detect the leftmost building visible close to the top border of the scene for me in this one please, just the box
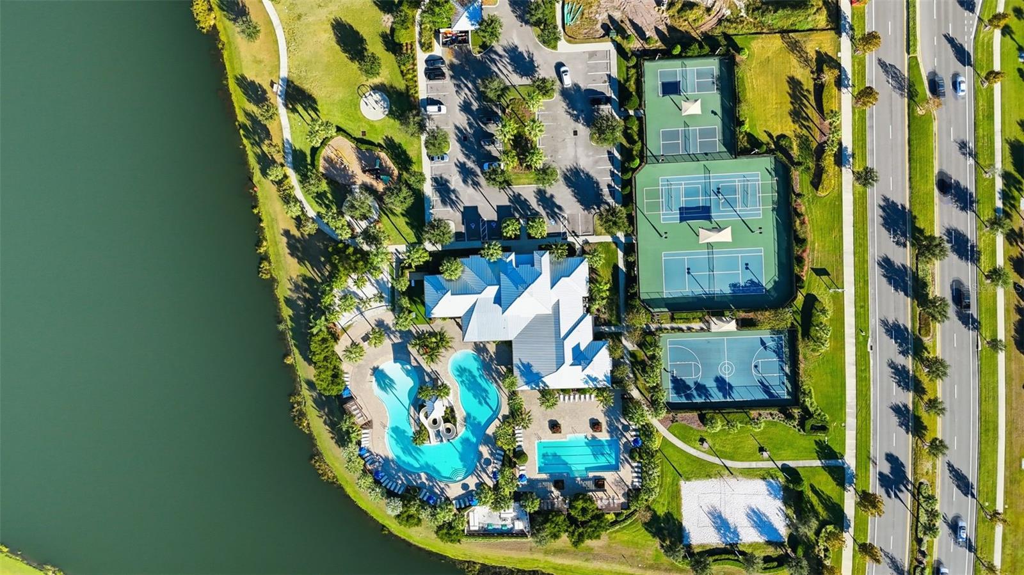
[439,0,482,48]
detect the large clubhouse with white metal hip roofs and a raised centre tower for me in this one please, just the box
[424,251,611,389]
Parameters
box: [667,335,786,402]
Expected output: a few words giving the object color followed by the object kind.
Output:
blue basketball court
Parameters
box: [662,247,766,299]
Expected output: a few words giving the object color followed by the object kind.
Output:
blue tennis court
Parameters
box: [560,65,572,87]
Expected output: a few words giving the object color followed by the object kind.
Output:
white vehicle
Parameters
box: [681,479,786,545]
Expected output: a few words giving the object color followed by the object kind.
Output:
white sports court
